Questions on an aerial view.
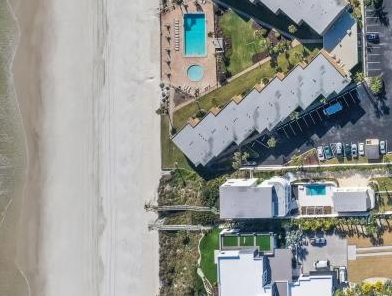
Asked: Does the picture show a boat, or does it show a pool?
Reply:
pool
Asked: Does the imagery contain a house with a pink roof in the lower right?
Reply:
No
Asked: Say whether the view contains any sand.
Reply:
Yes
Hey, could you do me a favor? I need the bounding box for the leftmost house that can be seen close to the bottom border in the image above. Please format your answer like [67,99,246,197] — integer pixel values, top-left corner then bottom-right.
[218,227,294,296]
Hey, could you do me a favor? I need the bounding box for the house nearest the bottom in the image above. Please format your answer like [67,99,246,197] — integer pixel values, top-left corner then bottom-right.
[292,268,336,296]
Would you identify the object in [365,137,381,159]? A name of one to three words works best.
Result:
shed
